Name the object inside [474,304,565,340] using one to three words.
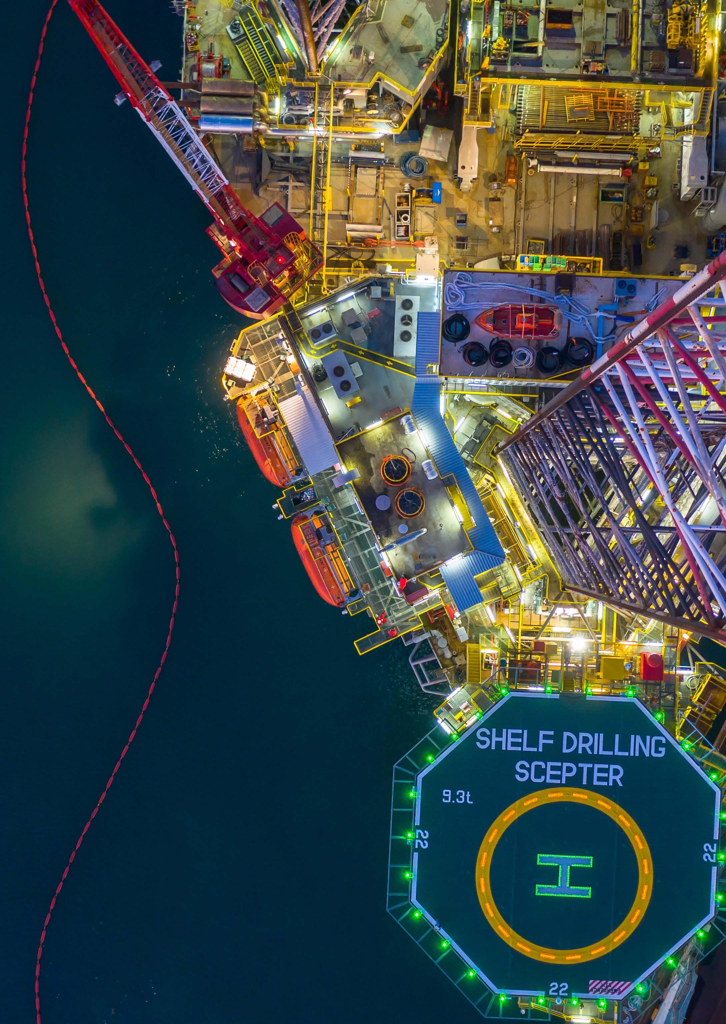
boat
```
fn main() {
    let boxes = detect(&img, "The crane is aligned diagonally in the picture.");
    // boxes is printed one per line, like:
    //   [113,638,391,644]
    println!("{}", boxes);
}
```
[64,0,326,328]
